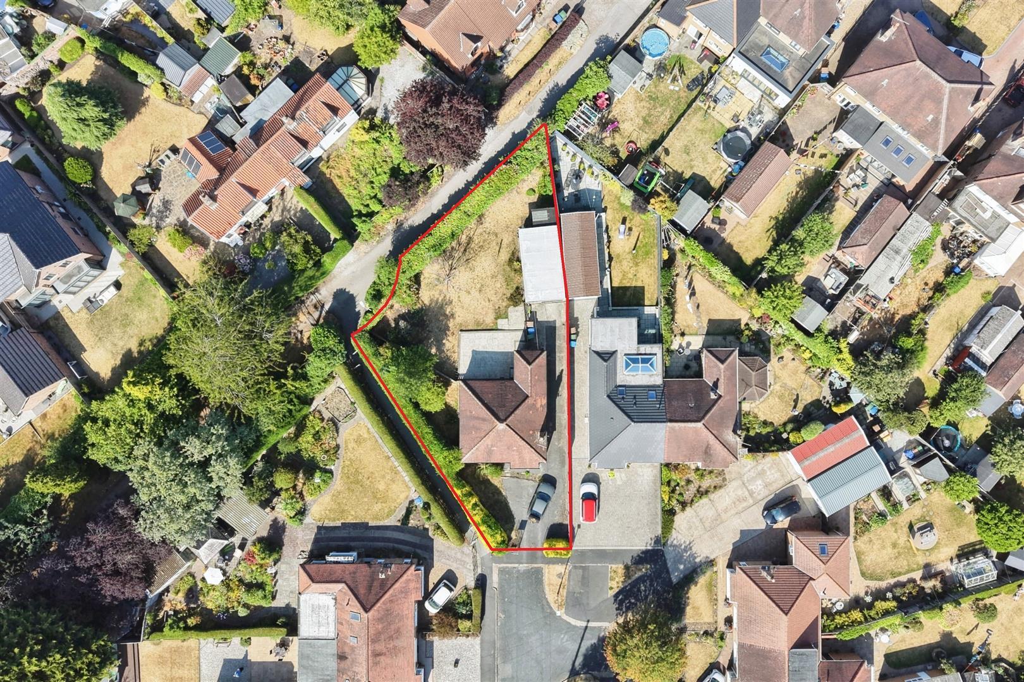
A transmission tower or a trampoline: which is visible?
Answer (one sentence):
I can see a trampoline in this picture.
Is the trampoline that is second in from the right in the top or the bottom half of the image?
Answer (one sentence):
The trampoline that is second in from the right is in the top half of the image.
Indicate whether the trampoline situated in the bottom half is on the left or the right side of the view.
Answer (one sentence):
You can find the trampoline situated in the bottom half on the right side of the picture.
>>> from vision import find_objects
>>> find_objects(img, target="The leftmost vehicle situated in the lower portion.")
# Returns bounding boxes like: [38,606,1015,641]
[425,580,455,613]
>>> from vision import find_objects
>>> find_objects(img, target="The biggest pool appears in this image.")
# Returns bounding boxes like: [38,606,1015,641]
[639,24,672,59]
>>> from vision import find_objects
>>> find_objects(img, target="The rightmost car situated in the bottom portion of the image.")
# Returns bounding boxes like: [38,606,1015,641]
[764,497,805,527]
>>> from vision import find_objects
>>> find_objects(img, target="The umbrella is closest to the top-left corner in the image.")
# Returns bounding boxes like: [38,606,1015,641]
[116,193,141,218]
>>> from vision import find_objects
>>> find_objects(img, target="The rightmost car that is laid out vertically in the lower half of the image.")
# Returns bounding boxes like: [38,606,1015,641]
[580,484,600,524]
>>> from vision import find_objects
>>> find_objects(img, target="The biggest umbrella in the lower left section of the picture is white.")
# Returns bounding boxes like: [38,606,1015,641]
[204,565,224,585]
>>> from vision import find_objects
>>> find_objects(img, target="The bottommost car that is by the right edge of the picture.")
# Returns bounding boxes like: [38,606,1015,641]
[1000,72,1024,110]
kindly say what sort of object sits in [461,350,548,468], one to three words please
house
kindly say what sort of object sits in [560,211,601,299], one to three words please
building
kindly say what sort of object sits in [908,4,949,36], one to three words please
car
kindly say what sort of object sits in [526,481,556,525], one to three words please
car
